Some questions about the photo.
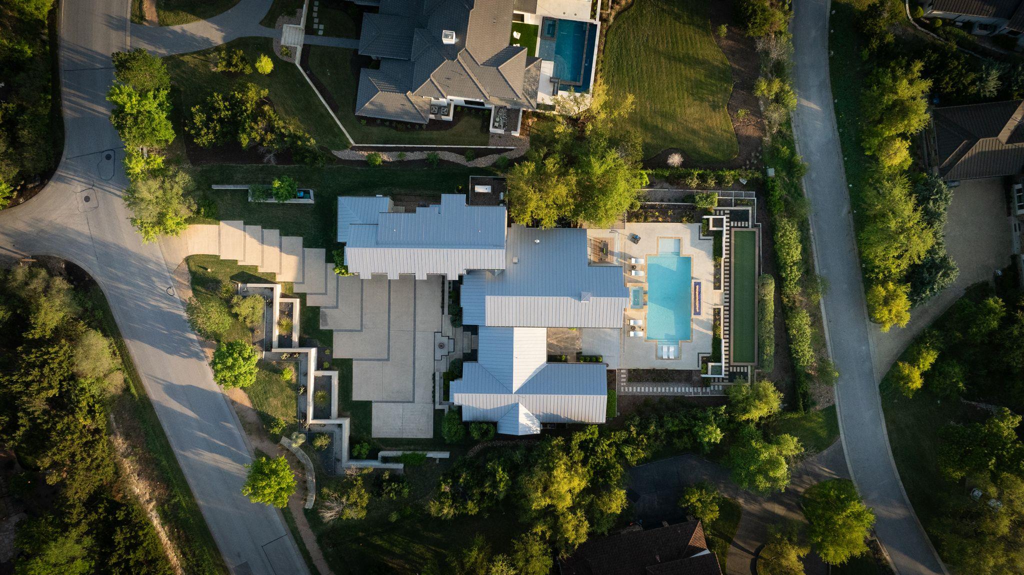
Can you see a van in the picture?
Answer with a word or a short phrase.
No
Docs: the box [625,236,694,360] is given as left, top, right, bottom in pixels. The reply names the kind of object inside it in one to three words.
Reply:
swimming pool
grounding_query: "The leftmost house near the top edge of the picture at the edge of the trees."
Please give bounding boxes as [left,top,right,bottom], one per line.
[355,0,543,128]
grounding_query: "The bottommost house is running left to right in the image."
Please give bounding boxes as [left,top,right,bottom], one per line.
[560,504,722,575]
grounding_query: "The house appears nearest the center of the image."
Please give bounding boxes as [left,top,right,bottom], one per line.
[338,194,629,435]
